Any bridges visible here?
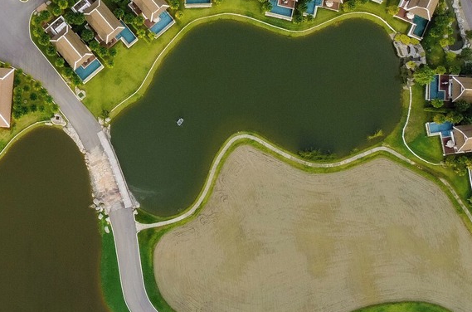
Yes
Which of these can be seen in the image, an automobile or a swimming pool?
swimming pool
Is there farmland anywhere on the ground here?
Yes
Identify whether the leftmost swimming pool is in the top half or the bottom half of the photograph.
top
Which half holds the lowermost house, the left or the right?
right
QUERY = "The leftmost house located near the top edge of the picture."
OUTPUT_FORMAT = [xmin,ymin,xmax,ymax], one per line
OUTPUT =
[41,16,98,70]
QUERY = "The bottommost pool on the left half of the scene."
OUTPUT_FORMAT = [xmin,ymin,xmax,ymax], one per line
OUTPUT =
[76,58,105,84]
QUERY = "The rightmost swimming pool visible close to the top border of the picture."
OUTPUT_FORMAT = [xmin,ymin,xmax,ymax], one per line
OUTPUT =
[406,13,432,39]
